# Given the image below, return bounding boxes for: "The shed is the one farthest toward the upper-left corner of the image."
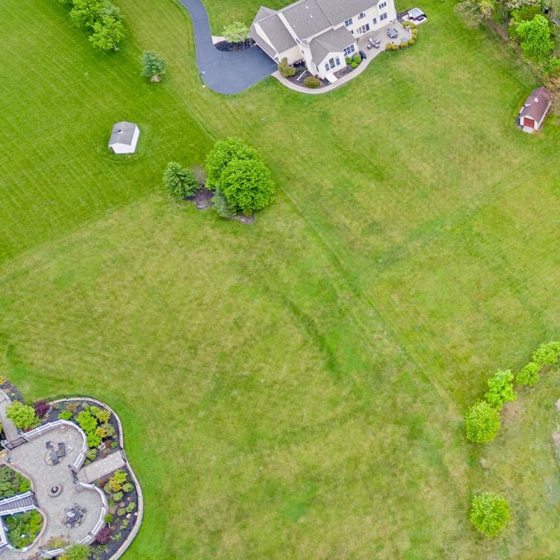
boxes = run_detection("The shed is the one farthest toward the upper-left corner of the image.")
[110,118,143,157]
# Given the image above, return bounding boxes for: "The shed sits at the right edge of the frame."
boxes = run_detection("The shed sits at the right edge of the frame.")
[520,90,552,134]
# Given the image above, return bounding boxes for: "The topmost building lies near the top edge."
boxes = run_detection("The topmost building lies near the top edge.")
[244,0,398,79]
